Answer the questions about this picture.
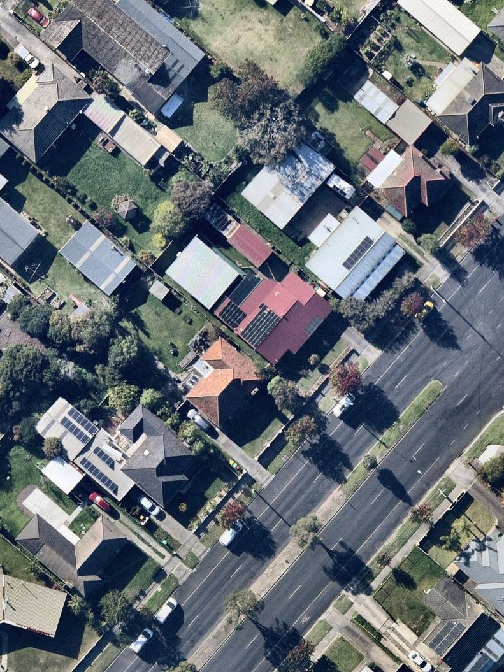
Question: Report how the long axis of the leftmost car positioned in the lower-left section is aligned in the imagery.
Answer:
diagonally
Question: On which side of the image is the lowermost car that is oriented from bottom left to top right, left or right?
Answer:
left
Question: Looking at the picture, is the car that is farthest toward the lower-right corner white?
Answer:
Yes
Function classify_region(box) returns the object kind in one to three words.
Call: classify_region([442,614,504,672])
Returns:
house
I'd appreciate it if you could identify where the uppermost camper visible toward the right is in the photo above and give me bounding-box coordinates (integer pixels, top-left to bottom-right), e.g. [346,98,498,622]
[330,174,356,198]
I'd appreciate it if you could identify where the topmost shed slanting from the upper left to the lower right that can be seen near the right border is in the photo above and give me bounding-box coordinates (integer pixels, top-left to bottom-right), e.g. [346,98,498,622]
[397,0,481,56]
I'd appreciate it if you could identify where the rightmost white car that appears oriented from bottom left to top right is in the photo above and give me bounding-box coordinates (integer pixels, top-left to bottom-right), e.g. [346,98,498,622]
[332,393,355,419]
